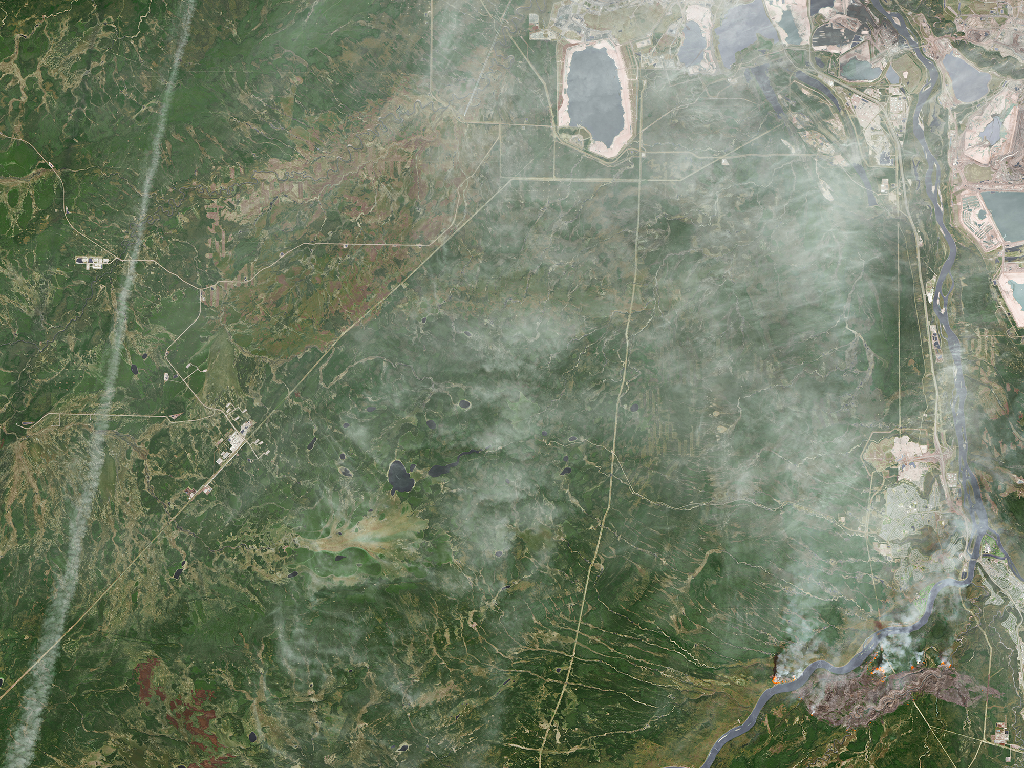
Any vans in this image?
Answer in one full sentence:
No, no van can be seen from above.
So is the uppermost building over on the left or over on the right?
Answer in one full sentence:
You can find the uppermost building on the right side of the picture.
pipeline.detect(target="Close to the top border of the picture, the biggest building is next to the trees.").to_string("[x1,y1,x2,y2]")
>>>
[812,6,878,46]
